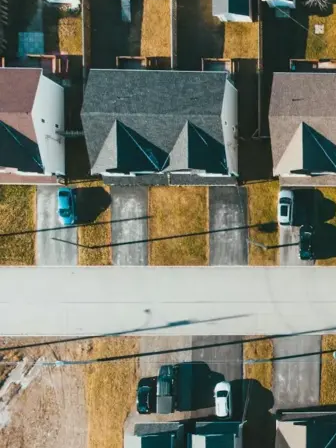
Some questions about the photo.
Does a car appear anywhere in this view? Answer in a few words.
Yes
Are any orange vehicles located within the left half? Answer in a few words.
No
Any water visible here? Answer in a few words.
No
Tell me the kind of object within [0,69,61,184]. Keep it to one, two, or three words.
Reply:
house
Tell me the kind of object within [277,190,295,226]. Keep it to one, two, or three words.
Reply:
car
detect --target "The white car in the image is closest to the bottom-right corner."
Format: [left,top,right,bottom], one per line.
[213,381,232,419]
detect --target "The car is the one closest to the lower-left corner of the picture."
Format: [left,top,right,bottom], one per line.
[137,382,155,416]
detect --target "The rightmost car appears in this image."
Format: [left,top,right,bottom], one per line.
[297,225,315,260]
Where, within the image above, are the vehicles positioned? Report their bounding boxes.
[137,382,155,416]
[213,381,232,419]
[155,366,177,413]
[297,225,315,260]
[277,190,295,226]
[56,188,77,224]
